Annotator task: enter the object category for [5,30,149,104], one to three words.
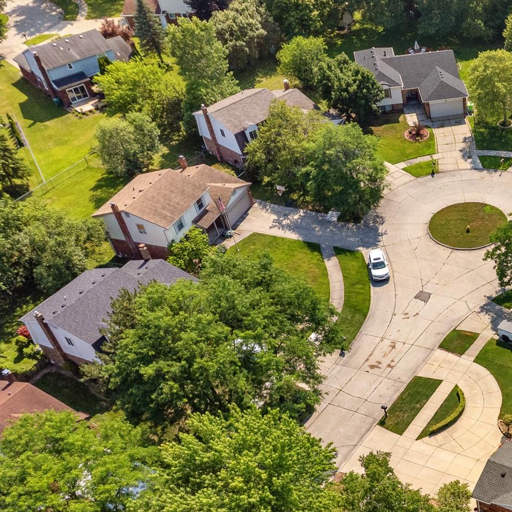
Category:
house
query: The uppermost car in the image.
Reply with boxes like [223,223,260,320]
[366,251,388,281]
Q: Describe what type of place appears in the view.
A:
residential area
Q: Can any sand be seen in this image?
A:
No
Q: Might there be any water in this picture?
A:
No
